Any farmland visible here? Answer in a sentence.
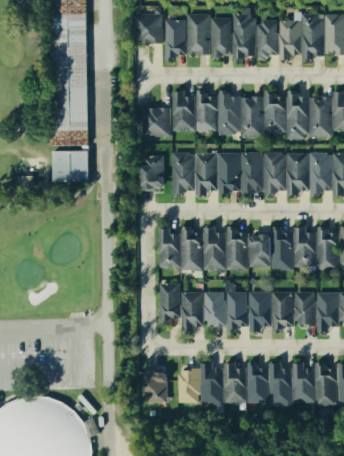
No, farmland can't be seen anywhere here.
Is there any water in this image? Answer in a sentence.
No, the scene doesn't show any water.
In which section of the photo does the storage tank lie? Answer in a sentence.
You can find the storage tank in the bottom left area of the picture.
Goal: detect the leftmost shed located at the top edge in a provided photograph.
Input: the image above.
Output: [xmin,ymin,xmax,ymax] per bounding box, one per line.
[50,0,86,146]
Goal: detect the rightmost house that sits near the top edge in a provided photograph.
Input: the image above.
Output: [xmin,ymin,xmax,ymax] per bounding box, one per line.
[325,14,344,56]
